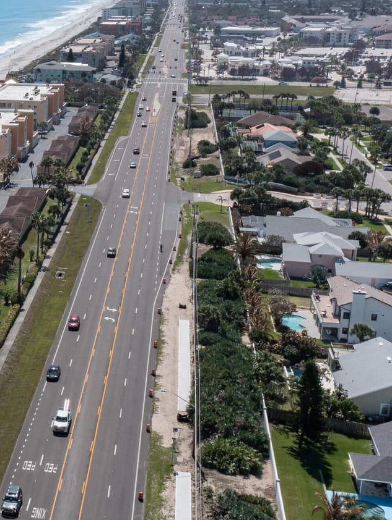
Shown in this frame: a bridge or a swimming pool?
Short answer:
swimming pool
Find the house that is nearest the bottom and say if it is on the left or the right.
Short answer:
right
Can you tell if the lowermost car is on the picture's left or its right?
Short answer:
left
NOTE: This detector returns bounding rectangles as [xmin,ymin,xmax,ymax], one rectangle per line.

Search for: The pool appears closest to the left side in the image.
[257,256,281,272]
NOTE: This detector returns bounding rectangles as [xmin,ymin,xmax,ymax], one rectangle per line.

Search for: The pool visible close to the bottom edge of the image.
[327,490,392,520]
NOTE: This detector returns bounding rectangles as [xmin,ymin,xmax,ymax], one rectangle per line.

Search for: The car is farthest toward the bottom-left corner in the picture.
[2,483,23,513]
